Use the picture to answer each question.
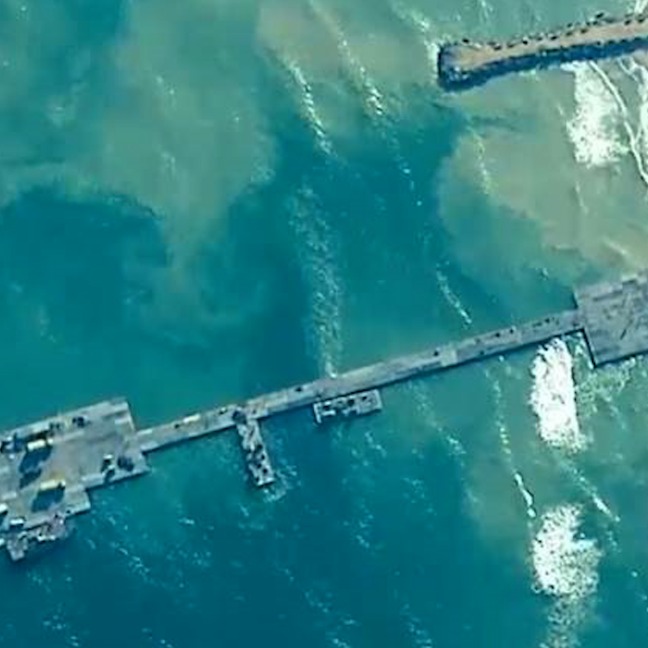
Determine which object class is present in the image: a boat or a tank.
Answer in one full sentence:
I can see a boat in this picture.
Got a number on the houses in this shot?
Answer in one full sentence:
There are no houses in this view.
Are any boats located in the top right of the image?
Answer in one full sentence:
No, in the top right of the image there is no boat.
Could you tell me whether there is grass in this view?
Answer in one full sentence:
No, grass can't be seen anywhere here.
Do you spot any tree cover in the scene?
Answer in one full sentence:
No, the picture contains no tree cover.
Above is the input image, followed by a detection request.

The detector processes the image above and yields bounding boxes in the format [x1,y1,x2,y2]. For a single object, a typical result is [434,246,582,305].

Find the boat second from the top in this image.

[230,410,276,487]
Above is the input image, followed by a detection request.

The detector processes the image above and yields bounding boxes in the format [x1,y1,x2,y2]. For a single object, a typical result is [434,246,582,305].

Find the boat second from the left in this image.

[20,518,71,544]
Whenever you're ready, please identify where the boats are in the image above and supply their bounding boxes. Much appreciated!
[20,518,71,544]
[314,390,383,423]
[4,533,27,564]
[230,410,276,487]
